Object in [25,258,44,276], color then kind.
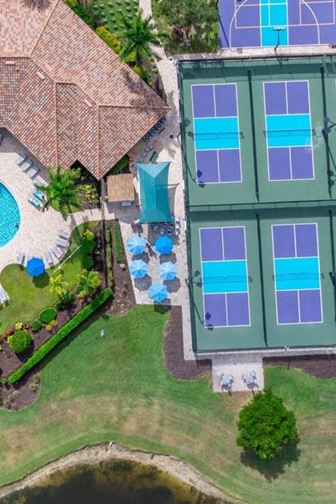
blue umbrella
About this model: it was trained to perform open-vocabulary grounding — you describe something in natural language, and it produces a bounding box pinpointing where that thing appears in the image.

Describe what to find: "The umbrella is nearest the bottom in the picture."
[148,282,167,301]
